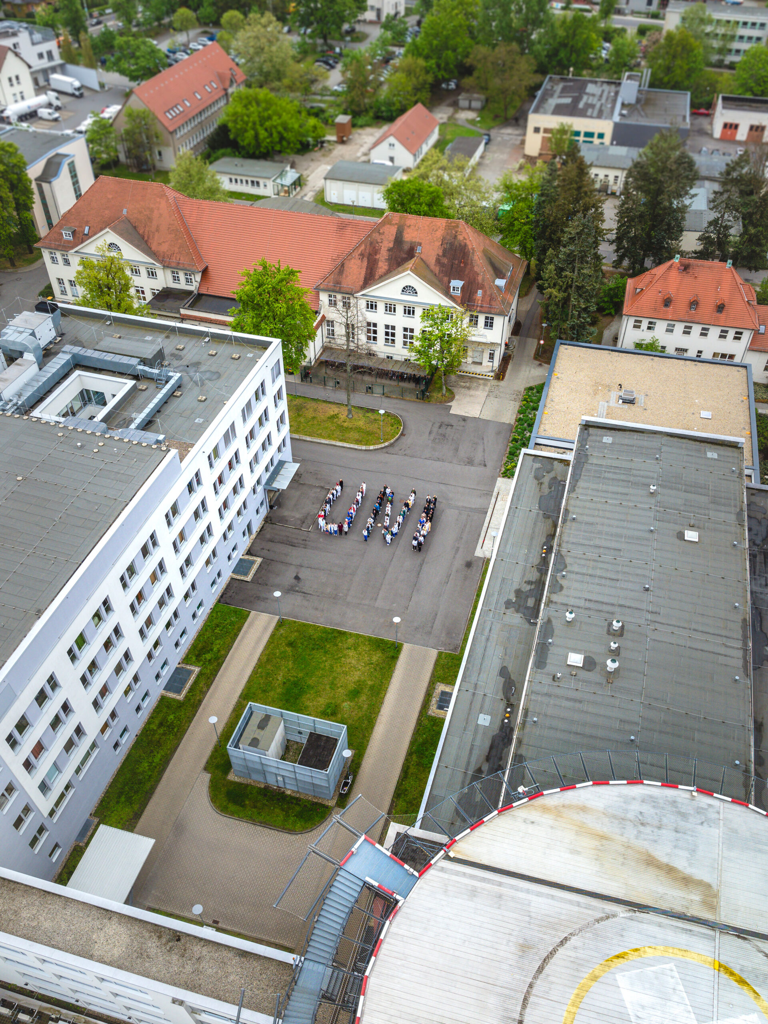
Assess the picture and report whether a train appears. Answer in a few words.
No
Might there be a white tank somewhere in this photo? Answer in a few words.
No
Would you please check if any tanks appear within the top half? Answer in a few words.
No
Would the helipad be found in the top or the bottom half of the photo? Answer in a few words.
bottom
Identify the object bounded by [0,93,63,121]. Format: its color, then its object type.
white truck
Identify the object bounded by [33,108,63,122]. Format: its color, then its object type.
white vehicle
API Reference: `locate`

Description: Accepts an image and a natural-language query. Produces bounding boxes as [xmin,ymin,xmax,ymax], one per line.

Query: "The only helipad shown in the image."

[352,778,768,1024]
